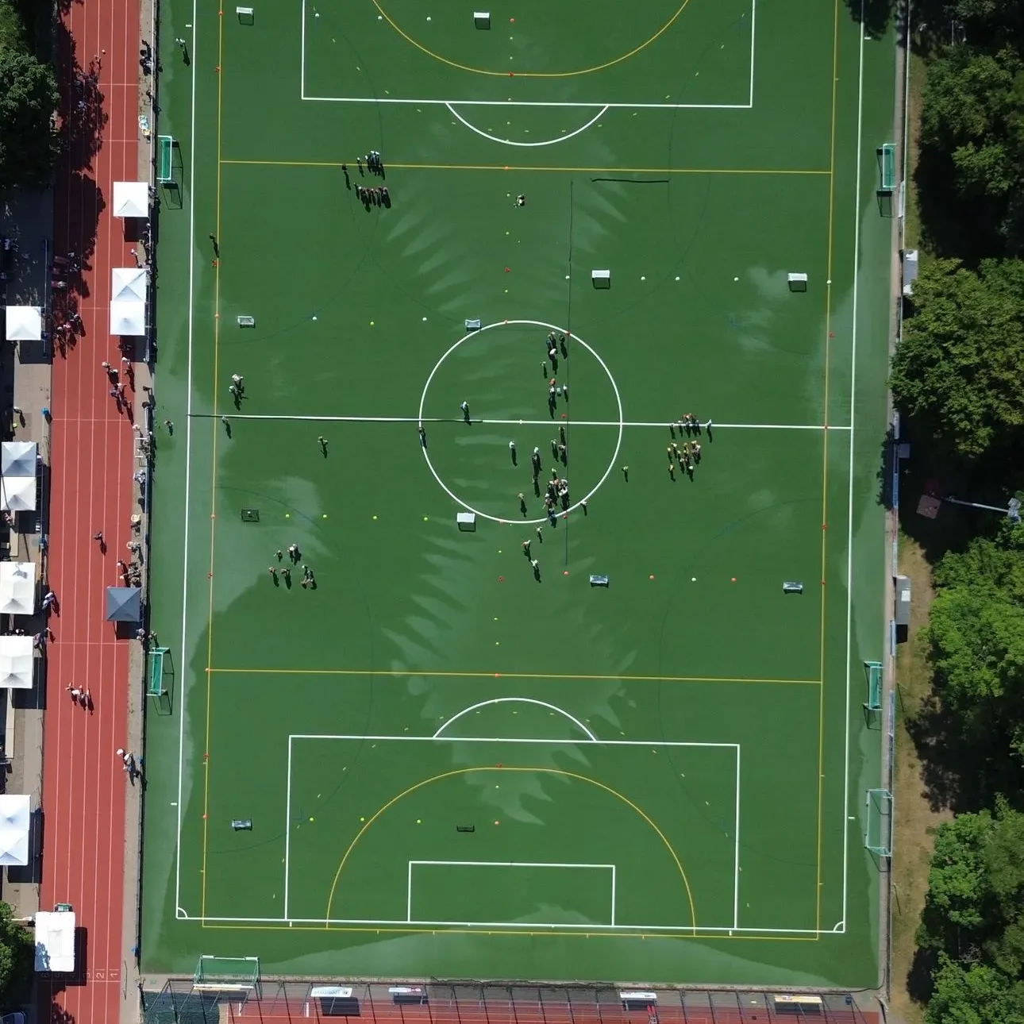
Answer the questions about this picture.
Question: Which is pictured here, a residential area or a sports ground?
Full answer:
This looks like a sports ground.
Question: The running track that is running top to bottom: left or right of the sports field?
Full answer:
Looking at the picture, you'll find the running track that is running top to bottom to the left of the sports field.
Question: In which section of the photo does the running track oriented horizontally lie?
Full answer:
The running track oriented horizontally appears toward the bottom of the photo.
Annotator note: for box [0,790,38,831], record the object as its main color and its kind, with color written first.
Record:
white tent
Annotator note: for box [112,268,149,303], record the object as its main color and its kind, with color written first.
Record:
white tent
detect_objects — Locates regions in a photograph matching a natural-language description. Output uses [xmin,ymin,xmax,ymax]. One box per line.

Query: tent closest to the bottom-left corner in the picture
[34,905,77,972]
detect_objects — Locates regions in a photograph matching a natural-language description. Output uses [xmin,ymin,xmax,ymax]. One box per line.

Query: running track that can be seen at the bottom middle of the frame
[228,1001,879,1024]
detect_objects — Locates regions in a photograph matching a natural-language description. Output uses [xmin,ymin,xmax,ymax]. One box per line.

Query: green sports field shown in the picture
[141,0,897,988]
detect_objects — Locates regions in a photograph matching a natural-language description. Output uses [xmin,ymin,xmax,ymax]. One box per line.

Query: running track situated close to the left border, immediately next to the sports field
[36,0,139,1024]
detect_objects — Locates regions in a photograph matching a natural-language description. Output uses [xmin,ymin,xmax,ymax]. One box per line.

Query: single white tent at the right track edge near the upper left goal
[113,182,151,221]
